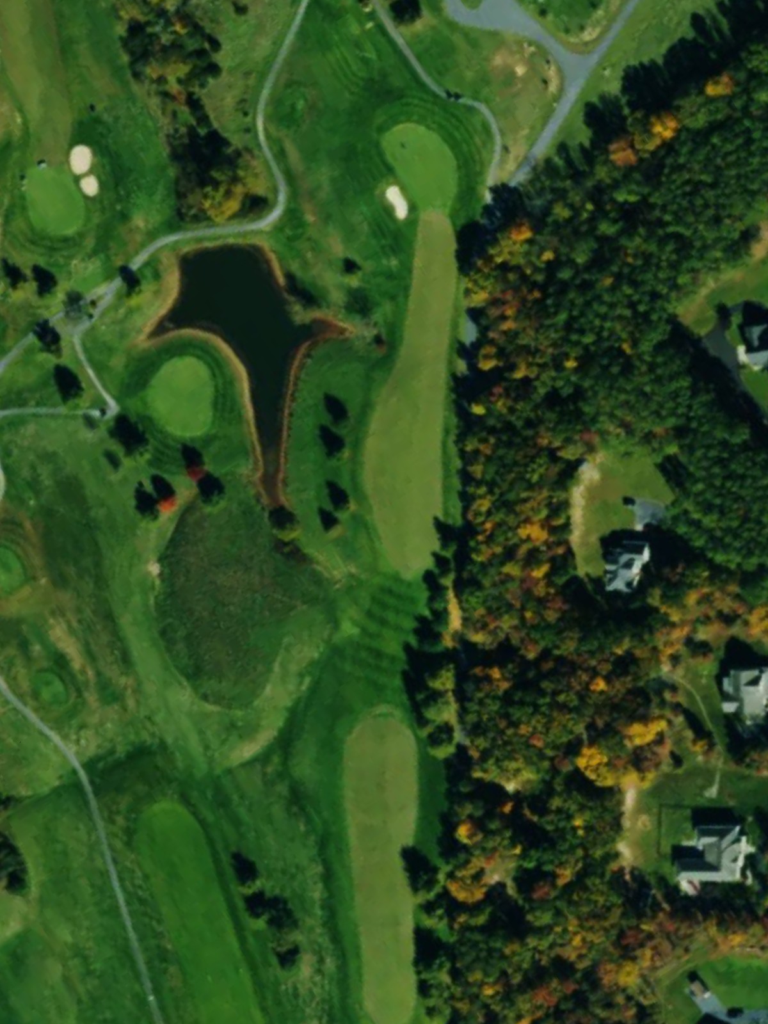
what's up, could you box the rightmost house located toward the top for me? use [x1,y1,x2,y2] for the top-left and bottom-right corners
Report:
[738,321,768,370]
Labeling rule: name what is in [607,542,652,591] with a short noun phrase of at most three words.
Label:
house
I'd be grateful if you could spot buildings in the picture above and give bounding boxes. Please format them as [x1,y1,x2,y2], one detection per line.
[723,671,768,718]
[689,980,706,999]
[607,542,652,591]
[677,828,753,894]
[738,321,768,370]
